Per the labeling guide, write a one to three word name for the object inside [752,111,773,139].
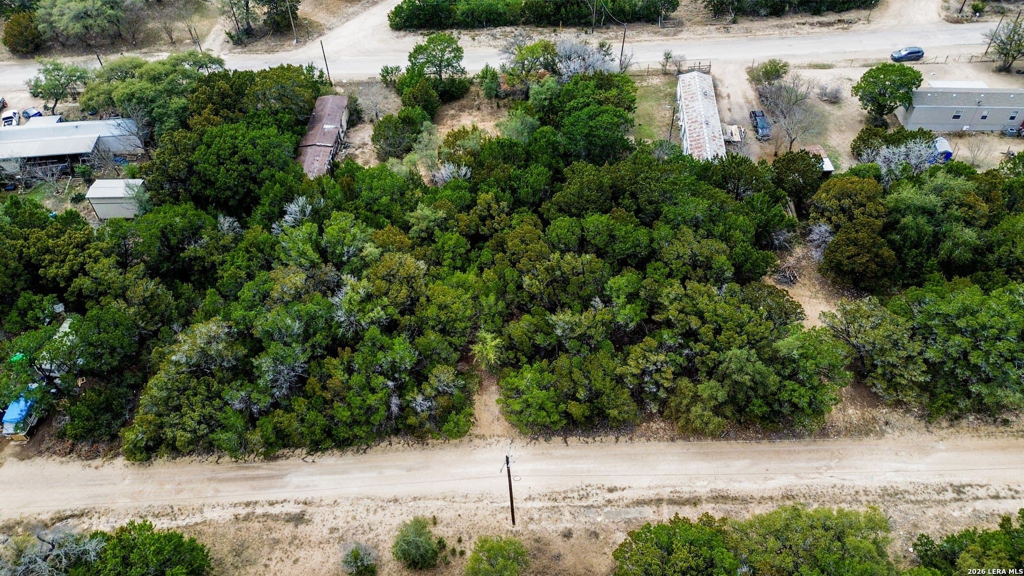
truck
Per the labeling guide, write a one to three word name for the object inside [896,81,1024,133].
house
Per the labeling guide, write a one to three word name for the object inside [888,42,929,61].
car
